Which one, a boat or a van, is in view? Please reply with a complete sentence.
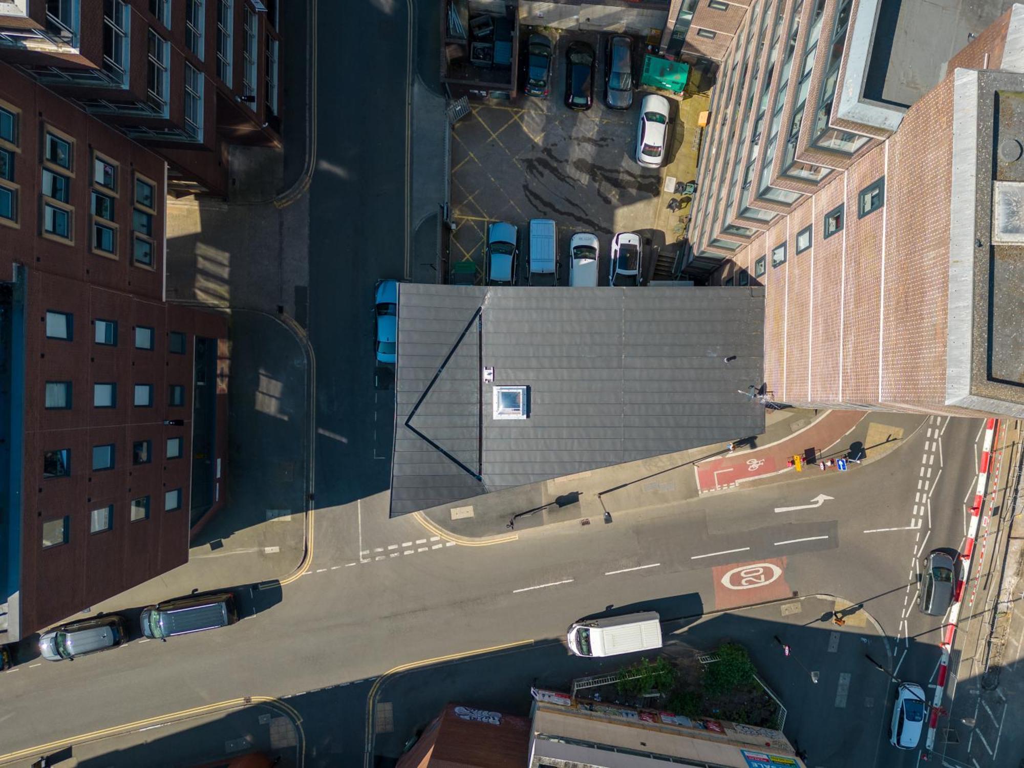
I can see a van in this picture.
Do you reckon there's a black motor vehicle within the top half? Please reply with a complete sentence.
Yes, within the top half there is a black motor vehicle.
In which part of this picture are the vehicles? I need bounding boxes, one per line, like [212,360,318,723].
[602,33,638,112]
[914,548,961,617]
[562,45,597,113]
[886,680,929,749]
[635,95,672,172]
[566,233,602,285]
[44,615,129,661]
[0,641,16,671]
[571,609,660,659]
[372,282,398,362]
[146,593,237,641]
[609,231,646,286]
[524,219,562,285]
[485,224,520,285]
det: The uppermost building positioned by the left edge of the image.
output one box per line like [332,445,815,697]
[0,0,284,198]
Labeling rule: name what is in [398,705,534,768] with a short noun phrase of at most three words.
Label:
building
